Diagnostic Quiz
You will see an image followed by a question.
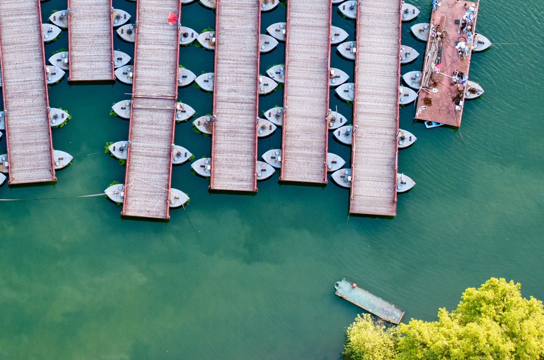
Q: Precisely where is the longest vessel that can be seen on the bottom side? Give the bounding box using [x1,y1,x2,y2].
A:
[336,279,404,325]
